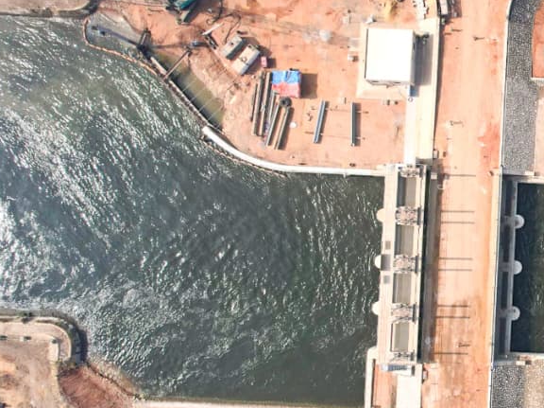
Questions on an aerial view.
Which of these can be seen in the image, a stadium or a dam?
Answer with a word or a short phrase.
dam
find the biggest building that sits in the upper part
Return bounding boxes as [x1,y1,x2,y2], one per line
[356,22,419,95]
